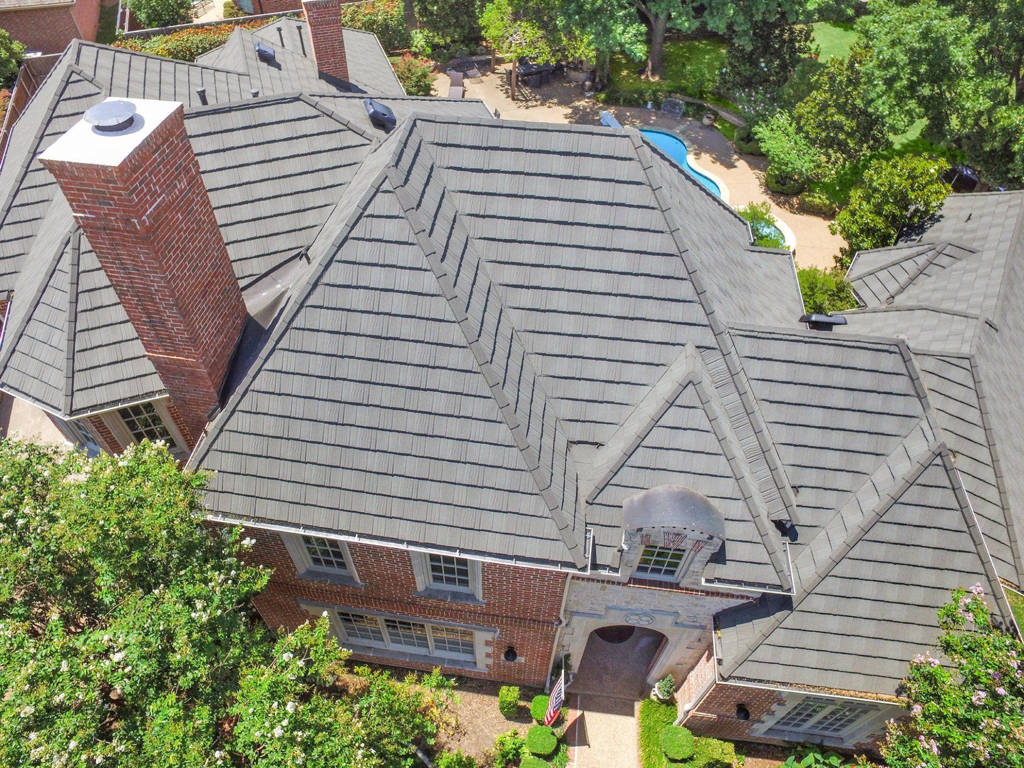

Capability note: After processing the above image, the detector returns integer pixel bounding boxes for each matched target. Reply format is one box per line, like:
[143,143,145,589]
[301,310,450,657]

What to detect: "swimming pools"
[639,130,714,190]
